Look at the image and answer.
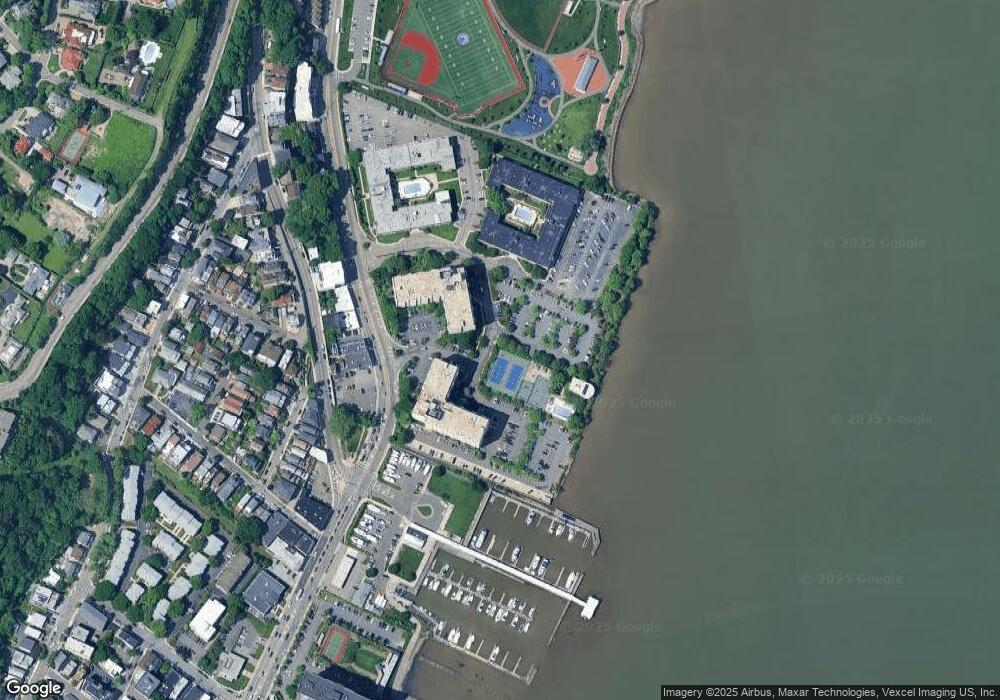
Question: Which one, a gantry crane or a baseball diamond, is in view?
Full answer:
Visible in the photo is a baseball diamond.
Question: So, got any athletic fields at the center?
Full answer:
No, the scene shows no athletic field at the center.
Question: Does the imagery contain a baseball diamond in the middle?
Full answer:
No, no baseball diamond can be made out in the middle.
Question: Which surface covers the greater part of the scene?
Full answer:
The scene is dominated by water.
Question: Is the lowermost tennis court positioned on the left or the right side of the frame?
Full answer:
The lowermost tennis court appears in the left half of the scene.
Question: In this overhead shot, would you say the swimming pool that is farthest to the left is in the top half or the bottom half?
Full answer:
It is in the top half that the swimming pool that is farthest to the left appears.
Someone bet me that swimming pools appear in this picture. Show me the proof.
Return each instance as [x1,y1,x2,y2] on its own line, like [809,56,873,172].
[514,203,537,226]
[140,41,162,64]
[546,395,571,420]
[398,178,431,199]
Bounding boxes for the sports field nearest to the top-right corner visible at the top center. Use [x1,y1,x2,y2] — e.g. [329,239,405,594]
[492,0,562,49]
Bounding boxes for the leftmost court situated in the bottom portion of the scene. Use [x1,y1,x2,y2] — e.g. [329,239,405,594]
[321,626,350,663]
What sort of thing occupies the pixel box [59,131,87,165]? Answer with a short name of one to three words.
tennis court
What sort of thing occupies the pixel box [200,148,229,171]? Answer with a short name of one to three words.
building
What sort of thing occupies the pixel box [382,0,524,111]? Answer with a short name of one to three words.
sports field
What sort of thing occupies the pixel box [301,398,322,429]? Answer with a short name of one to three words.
house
